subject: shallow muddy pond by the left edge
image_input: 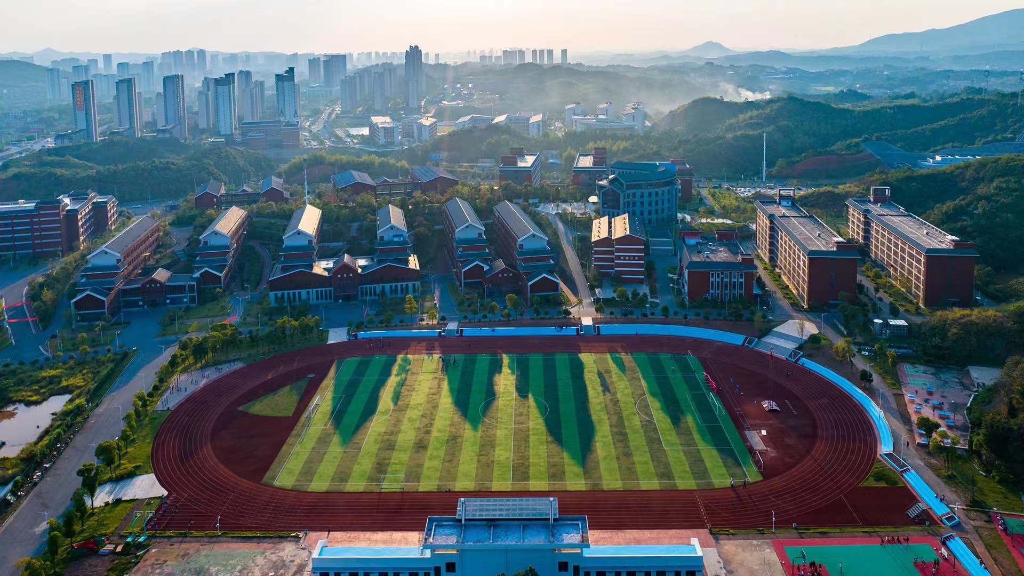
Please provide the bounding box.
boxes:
[0,394,70,459]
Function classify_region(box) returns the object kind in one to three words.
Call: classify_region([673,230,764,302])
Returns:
building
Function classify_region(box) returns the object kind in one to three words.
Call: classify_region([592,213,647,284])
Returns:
building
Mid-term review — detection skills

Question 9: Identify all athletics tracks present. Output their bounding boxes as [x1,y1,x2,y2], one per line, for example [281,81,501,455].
[112,336,934,531]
